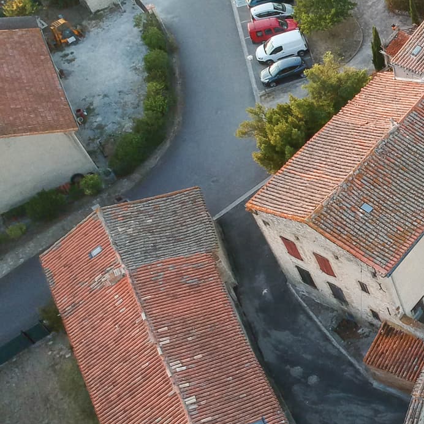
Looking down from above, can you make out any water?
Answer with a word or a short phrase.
No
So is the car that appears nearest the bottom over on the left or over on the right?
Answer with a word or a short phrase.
right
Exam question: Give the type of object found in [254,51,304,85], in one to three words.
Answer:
car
